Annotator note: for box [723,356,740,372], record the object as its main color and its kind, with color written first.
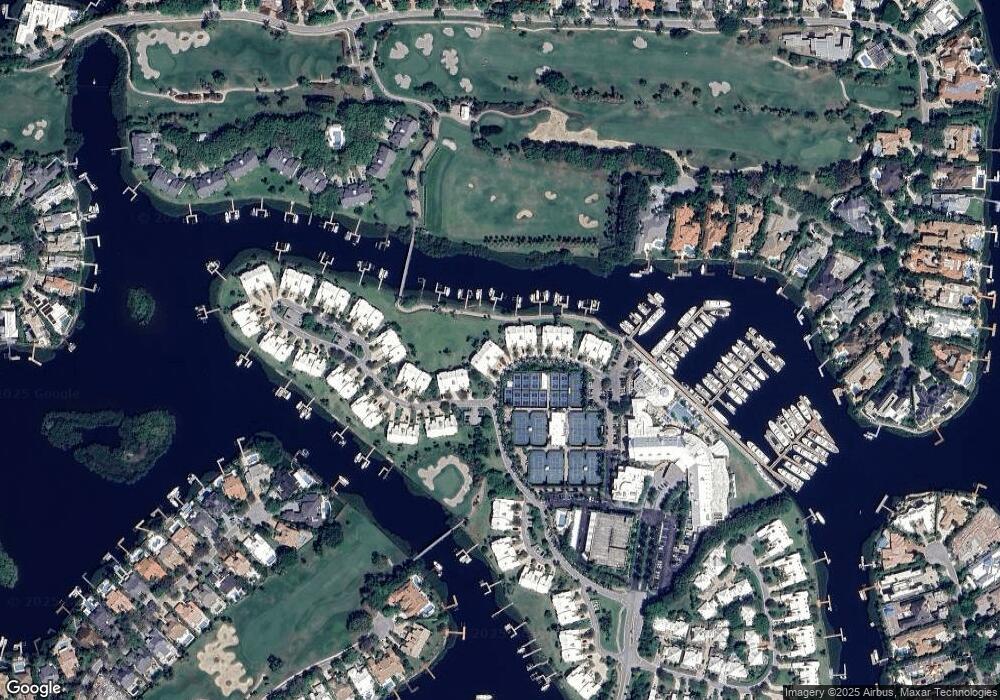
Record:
white boat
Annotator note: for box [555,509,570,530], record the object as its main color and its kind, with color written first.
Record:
white swimming pool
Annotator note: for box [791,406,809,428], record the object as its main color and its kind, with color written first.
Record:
white boat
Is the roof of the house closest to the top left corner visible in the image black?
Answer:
No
